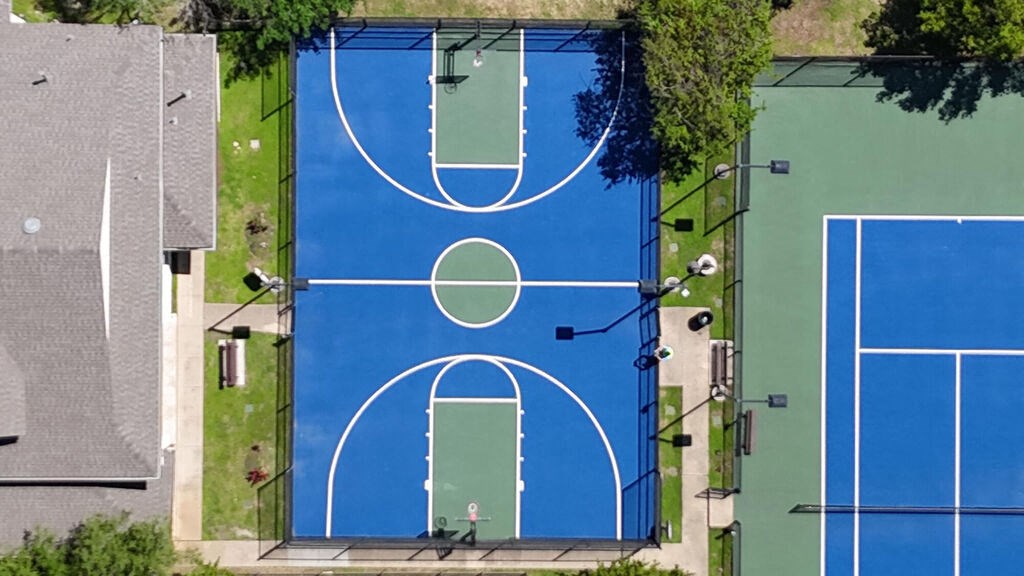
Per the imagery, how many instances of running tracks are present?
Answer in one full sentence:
The picture shows no running tracks.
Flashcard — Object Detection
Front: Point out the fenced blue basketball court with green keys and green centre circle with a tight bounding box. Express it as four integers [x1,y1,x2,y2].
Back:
[293,28,658,539]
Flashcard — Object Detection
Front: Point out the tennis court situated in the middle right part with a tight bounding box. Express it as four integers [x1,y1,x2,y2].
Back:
[731,68,1024,576]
